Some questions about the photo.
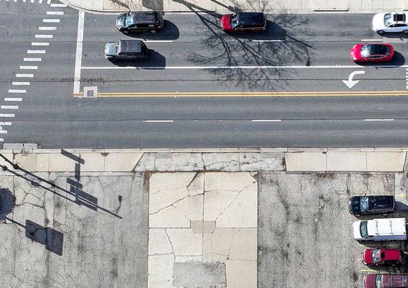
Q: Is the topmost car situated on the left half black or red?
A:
black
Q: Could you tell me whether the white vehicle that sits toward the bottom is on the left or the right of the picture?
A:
right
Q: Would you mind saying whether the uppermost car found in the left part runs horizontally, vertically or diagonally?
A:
horizontally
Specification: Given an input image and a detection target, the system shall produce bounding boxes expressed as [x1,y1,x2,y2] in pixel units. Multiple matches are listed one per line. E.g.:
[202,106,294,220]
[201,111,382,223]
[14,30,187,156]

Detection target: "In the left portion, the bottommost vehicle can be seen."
[105,40,148,62]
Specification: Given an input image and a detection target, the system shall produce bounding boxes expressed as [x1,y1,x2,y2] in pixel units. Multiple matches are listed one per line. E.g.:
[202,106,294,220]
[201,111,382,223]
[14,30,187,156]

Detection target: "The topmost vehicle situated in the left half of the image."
[118,11,164,35]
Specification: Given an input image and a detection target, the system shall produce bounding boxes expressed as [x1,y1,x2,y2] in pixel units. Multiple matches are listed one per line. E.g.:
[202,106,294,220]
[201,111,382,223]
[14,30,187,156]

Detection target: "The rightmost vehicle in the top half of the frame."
[372,11,408,35]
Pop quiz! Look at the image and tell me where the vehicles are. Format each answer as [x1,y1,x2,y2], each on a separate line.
[354,219,408,241]
[362,248,404,267]
[105,40,148,62]
[364,273,408,288]
[221,11,267,35]
[372,11,408,35]
[349,195,395,217]
[118,11,164,35]
[350,42,394,64]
